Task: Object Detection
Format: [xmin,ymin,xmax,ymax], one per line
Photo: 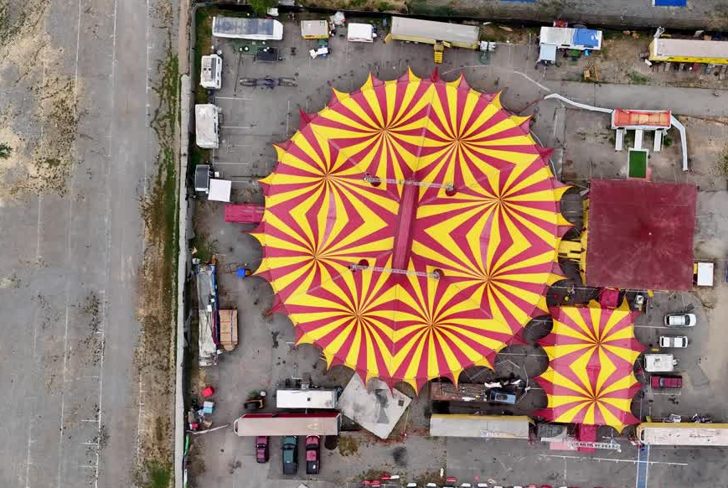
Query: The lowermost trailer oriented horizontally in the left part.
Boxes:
[235,413,345,436]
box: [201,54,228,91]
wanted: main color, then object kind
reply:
white camper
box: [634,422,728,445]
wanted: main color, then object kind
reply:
white trailer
